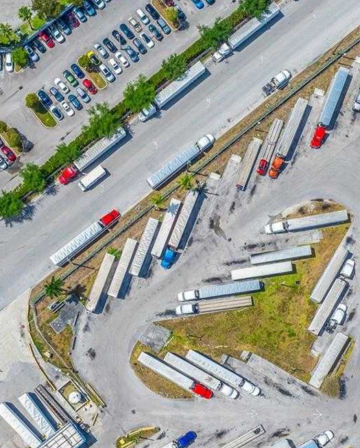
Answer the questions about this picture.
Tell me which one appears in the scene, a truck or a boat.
truck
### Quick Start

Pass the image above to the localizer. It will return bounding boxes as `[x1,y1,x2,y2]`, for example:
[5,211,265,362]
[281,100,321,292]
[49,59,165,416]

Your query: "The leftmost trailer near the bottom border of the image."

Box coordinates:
[0,403,35,448]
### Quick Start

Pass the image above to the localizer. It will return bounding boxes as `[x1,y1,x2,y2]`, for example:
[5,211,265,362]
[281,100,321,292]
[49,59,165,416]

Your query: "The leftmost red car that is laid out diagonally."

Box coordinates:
[1,147,16,163]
